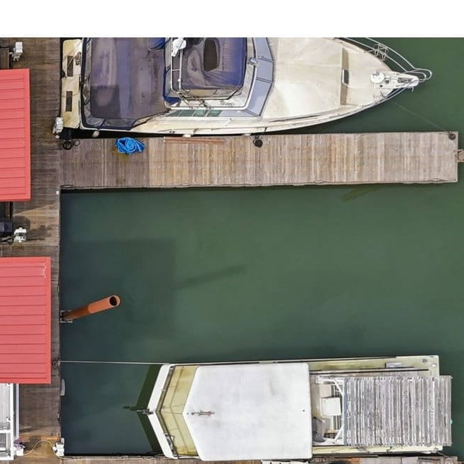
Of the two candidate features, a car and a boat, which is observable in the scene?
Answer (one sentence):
This aerial view contains a boat.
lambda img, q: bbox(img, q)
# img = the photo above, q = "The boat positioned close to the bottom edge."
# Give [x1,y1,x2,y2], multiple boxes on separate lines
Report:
[126,356,452,462]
